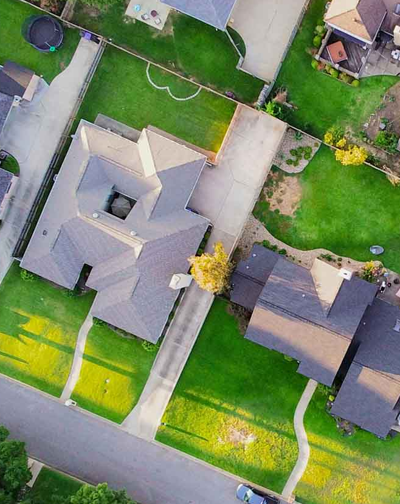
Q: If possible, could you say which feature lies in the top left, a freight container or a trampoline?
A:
trampoline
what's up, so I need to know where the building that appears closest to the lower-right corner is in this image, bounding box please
[330,297,400,440]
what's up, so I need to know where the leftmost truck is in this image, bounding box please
[233,481,280,504]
